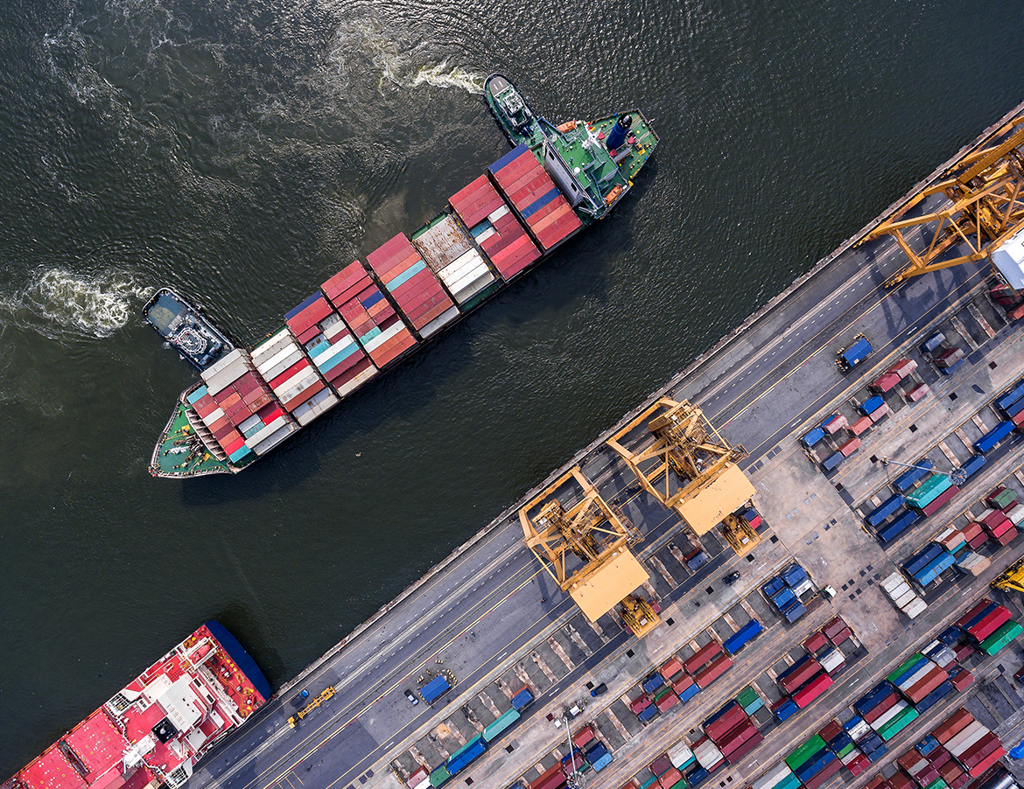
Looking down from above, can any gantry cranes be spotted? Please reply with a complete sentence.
Yes, the image includes a gantry crane.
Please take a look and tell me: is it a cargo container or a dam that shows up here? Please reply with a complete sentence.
This aerial view contains a cargo container.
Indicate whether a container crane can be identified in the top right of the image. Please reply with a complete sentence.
Yes, a container crane shows up in the top right of the image.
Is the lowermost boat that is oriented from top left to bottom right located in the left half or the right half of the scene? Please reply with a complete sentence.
It is on the left.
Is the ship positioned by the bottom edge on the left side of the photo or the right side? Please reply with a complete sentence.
You can find the ship positioned by the bottom edge on the left side of the picture.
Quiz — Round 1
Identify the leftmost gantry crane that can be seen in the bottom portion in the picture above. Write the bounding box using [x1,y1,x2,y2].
[510,461,660,638]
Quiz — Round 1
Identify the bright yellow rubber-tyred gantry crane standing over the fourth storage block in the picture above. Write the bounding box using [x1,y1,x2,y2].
[989,558,1024,594]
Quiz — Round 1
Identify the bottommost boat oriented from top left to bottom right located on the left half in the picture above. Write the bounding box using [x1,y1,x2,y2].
[147,289,233,372]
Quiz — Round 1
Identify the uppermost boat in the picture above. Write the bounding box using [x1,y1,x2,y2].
[483,69,545,152]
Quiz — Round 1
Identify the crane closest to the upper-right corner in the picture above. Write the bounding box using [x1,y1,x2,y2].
[939,111,1024,208]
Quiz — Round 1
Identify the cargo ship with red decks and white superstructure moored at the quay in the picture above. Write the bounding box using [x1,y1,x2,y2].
[0,620,271,789]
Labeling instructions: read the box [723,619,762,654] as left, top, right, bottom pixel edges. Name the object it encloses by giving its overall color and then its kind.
blue shipping container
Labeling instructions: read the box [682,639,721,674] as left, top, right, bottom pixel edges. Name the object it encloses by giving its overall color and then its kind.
red shipping container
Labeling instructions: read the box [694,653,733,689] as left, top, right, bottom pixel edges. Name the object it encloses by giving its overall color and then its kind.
red shipping container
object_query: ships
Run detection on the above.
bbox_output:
[0,620,271,789]
[146,108,660,480]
